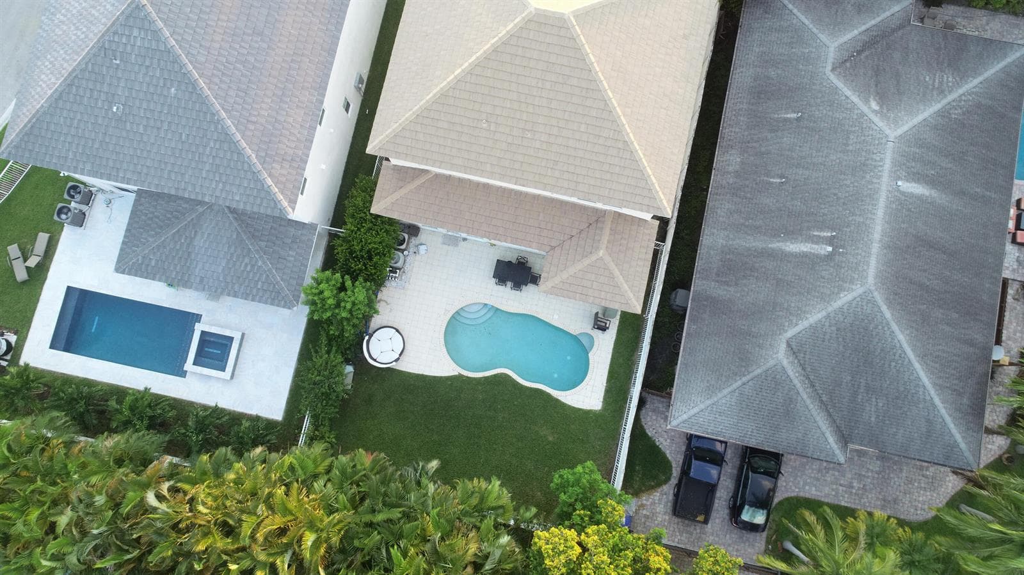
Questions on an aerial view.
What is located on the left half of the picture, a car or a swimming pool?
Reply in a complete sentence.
It is a swimming pool that can be seen on the left half of the picture.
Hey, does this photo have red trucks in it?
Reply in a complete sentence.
No, the scene contains no red truck.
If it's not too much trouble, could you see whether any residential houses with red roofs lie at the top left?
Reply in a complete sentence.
No, no residential house with a red roof can be made out at the top left.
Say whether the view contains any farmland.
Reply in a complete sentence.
No, there's no farmland in this view.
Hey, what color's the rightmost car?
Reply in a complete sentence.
The rightmost car looks black in the image.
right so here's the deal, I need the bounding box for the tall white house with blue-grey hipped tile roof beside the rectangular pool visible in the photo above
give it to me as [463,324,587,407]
[0,0,388,313]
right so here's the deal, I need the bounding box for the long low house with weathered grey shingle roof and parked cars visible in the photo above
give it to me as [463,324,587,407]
[666,0,1024,470]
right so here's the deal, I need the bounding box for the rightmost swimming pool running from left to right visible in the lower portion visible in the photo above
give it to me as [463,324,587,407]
[437,296,601,397]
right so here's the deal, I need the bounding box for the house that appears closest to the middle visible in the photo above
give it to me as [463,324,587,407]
[365,0,717,315]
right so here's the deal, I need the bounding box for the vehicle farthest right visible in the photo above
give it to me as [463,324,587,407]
[725,441,785,534]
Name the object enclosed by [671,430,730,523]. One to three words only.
truck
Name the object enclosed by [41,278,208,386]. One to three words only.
swimming pool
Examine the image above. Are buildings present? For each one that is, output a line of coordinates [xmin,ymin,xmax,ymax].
[365,0,717,315]
[0,0,388,313]
[666,0,1024,470]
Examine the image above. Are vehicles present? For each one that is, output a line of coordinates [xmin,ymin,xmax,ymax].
[725,441,785,534]
[671,430,730,523]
